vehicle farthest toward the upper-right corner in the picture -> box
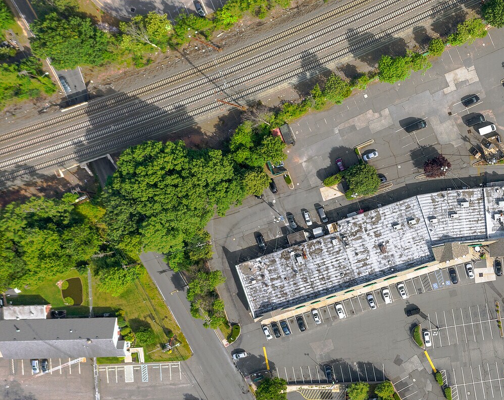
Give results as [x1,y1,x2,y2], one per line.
[463,94,481,107]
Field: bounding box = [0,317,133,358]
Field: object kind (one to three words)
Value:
building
